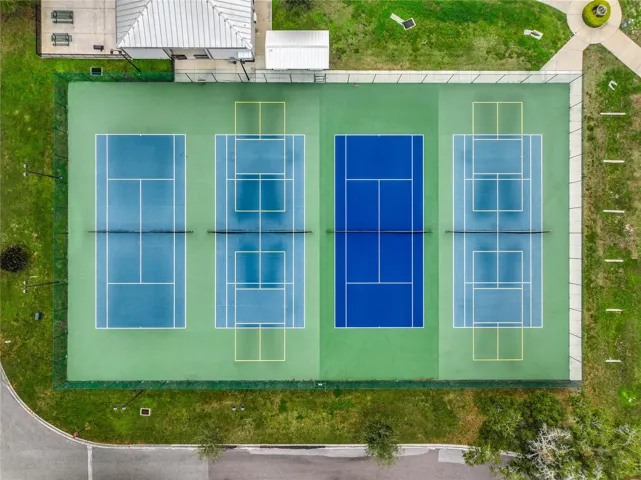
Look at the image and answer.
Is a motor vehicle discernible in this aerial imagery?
No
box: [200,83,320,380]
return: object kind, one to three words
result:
tennis court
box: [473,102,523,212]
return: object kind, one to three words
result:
sports court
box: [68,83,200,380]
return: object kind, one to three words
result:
tennis court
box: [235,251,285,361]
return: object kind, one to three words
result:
sports court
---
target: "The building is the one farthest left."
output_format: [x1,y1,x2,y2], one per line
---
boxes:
[116,0,257,61]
